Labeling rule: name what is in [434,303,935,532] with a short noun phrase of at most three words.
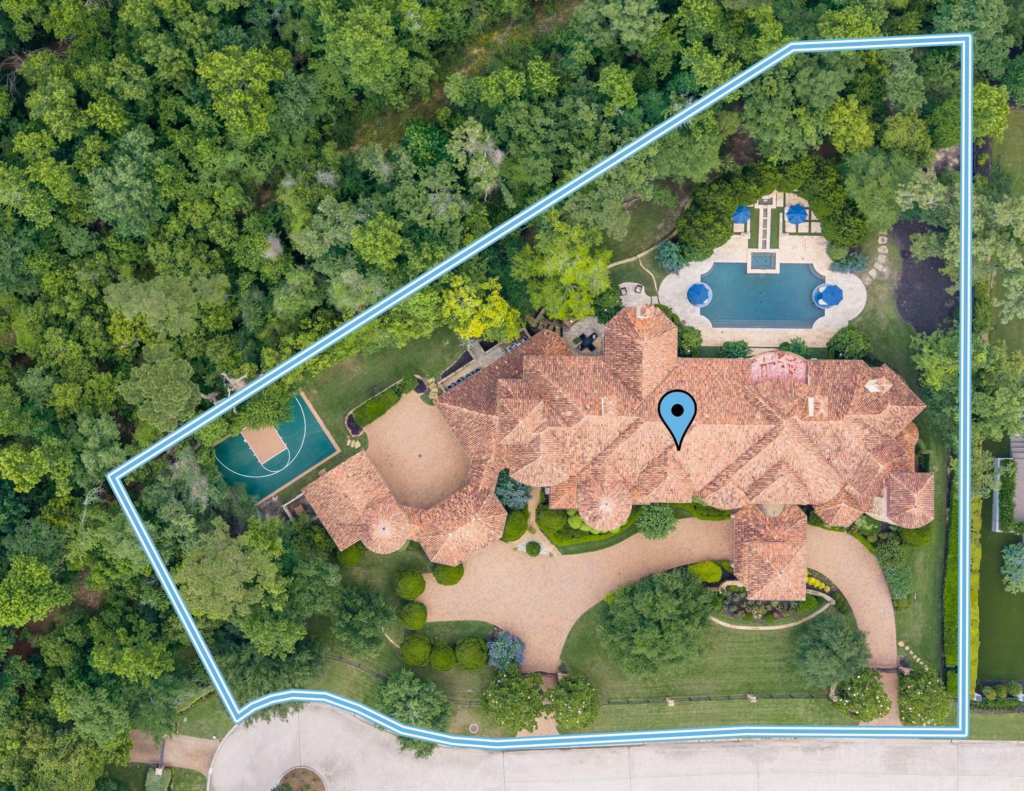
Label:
house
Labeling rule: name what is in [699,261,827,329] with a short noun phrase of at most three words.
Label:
swimming pool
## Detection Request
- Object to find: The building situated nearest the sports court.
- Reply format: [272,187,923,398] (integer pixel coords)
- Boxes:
[301,449,412,555]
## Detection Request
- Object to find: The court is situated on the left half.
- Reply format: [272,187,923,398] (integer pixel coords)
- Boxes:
[220,391,340,505]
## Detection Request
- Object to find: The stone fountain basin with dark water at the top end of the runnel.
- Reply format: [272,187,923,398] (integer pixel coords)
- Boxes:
[754,191,776,209]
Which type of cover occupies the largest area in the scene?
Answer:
trees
